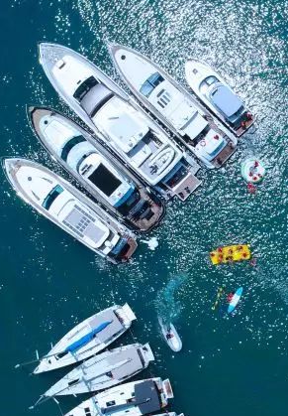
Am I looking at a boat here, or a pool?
boat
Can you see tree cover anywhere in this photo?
No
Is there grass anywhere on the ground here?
No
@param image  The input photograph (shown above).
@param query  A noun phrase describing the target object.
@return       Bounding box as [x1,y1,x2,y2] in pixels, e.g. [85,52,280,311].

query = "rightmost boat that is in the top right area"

[185,59,254,134]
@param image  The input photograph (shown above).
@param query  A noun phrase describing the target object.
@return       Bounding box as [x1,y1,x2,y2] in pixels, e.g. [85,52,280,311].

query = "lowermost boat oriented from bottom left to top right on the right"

[228,288,243,313]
